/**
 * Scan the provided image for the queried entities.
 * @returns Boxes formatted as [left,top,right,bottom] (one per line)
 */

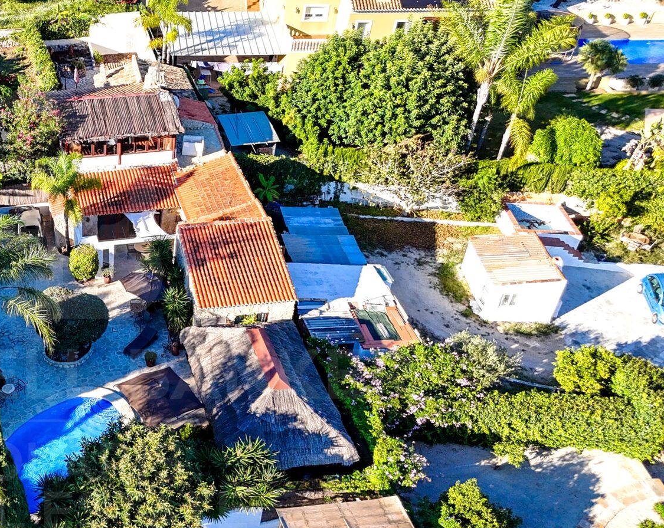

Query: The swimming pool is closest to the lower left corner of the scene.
[6,387,131,525]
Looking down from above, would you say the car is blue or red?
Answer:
blue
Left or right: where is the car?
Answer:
right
